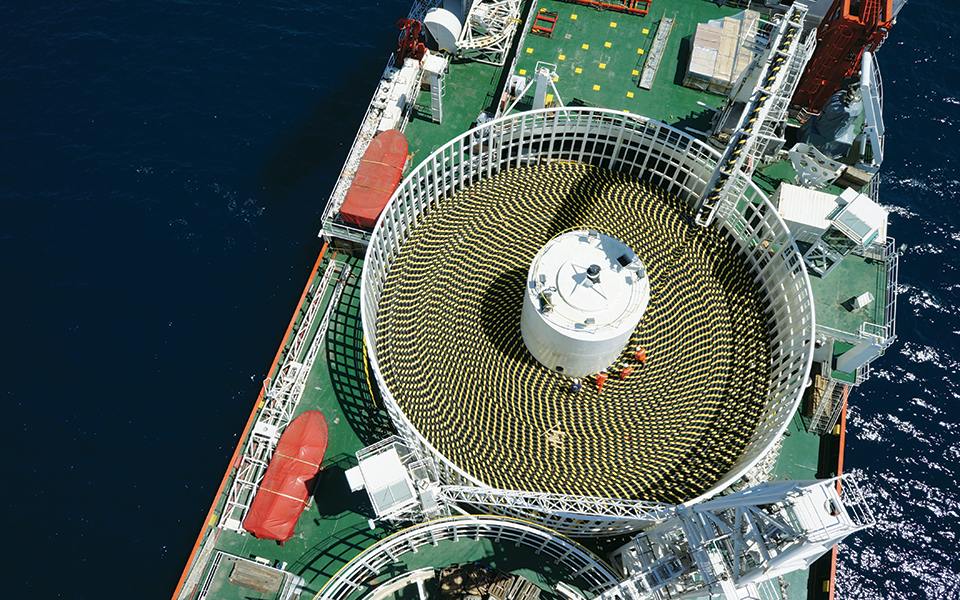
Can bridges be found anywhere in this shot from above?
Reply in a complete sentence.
Yes, I can see a bridge in this picture.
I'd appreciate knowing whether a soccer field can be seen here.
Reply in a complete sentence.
No, the scene contains no soccer field.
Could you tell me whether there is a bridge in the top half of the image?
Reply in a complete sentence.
No, the scene shows no bridge in the top half of the image.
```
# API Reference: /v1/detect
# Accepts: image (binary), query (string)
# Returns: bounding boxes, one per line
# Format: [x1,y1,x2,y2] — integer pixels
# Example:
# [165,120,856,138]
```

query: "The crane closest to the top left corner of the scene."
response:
[392,15,433,78]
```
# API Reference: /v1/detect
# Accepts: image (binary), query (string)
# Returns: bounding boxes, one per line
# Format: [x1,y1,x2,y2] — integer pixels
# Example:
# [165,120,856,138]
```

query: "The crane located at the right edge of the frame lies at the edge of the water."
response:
[799,0,916,101]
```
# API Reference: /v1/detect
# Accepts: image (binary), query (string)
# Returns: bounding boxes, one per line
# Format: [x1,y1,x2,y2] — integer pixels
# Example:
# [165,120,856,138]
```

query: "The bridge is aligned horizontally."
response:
[431,482,679,531]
